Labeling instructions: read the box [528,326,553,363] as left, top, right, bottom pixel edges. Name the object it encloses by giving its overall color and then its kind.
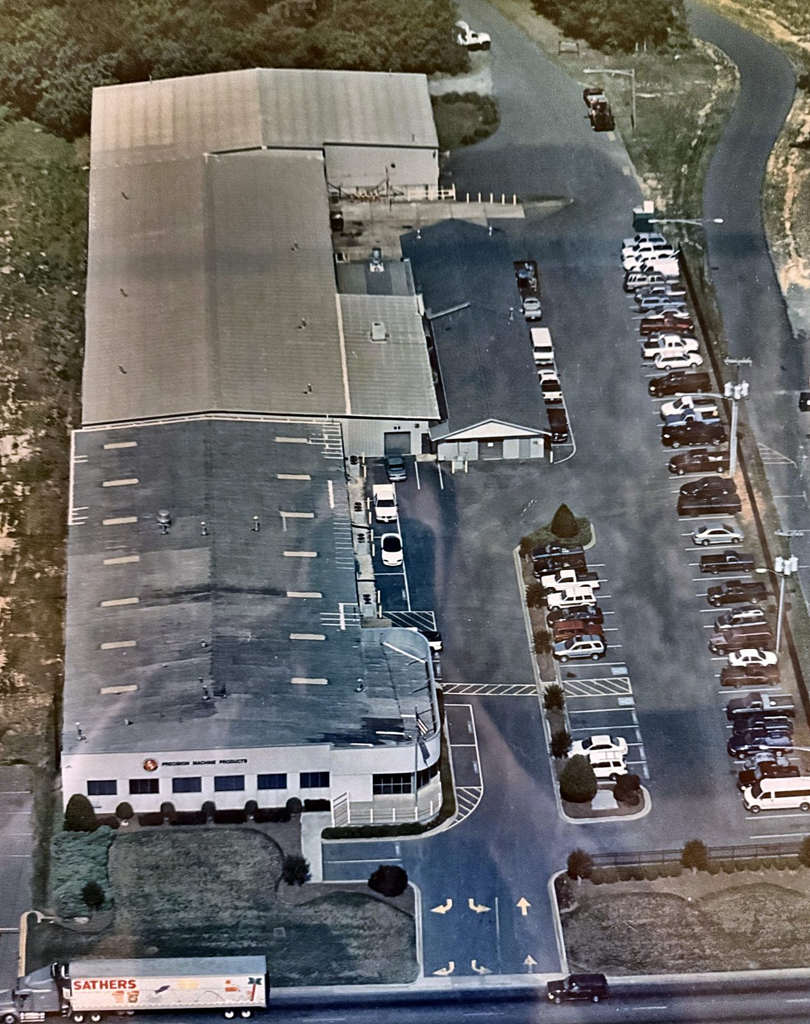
white vehicle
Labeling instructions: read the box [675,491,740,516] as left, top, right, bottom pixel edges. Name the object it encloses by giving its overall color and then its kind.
black truck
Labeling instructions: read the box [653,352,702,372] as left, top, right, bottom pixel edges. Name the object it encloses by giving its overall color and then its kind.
white car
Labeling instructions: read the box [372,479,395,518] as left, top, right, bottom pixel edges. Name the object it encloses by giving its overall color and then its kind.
white truck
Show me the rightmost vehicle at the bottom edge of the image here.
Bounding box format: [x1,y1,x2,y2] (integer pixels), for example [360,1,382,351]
[546,968,608,1003]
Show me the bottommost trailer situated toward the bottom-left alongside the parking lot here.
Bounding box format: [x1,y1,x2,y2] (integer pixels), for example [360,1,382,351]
[61,954,266,1016]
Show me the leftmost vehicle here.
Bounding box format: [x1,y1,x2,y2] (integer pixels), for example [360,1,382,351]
[0,959,101,1018]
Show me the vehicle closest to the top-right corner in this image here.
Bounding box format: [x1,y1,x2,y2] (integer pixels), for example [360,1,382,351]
[581,93,612,130]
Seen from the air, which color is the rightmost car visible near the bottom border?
black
